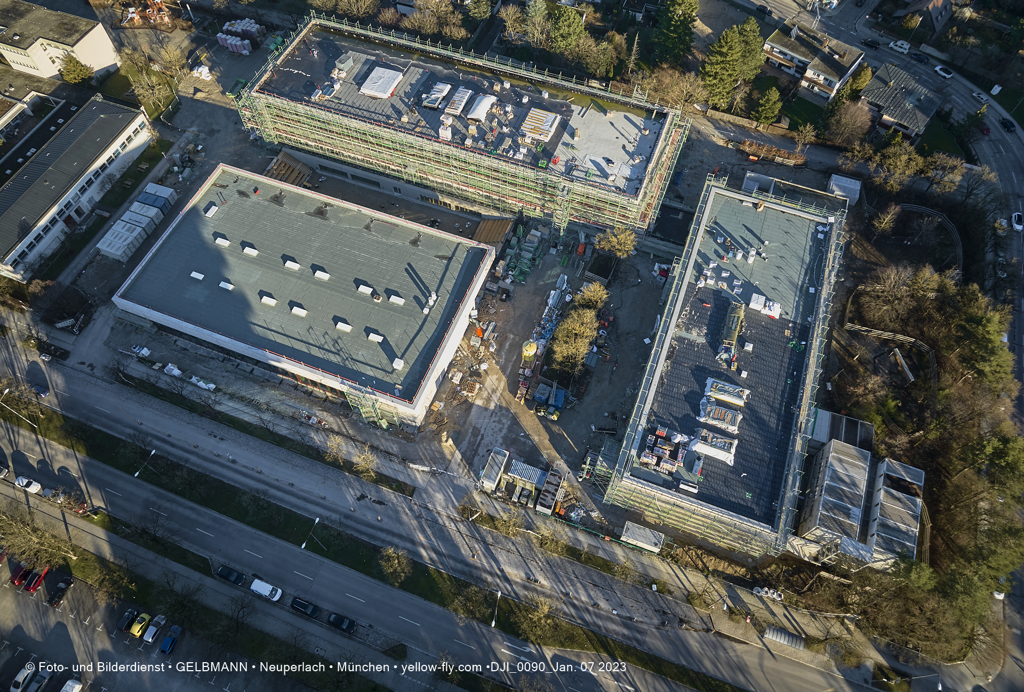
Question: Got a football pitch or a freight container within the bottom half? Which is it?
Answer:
freight container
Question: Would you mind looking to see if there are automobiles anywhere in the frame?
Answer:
Yes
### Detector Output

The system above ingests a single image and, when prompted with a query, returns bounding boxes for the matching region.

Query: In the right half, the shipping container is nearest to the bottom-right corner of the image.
[618,522,665,555]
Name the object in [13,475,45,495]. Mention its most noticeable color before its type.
white car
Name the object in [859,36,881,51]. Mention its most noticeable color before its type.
black vehicle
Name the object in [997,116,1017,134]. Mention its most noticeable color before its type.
black car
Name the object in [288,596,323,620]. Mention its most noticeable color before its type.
black vehicle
